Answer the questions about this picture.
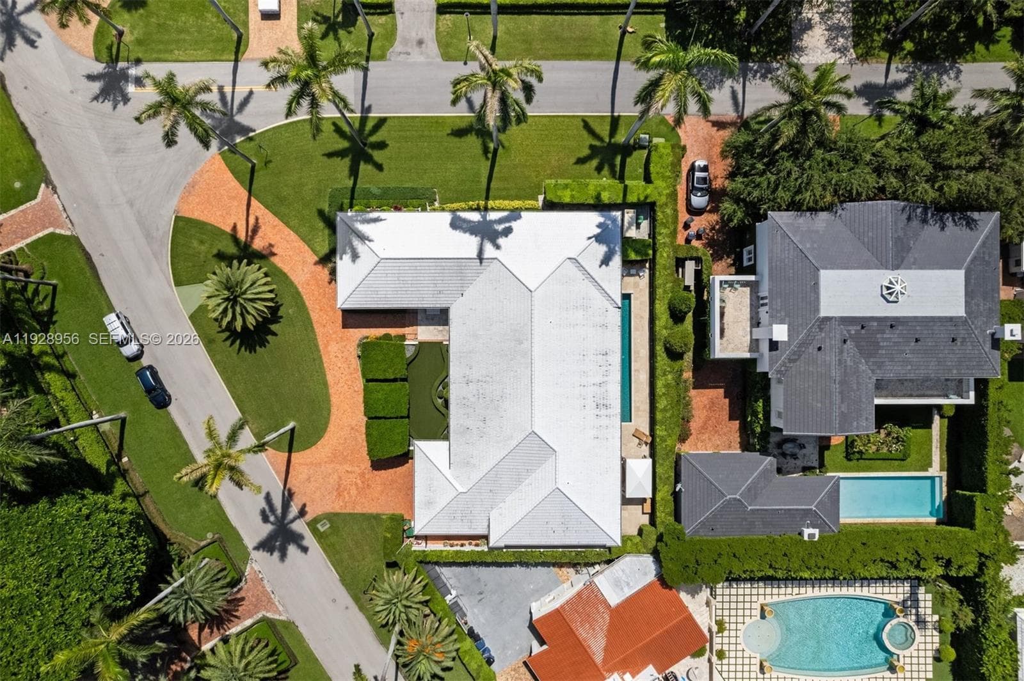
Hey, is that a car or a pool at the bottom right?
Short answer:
pool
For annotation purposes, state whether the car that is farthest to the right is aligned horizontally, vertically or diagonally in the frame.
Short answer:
vertically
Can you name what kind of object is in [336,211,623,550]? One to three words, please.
house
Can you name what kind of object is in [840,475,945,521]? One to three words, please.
swimming pool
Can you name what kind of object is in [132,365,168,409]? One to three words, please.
car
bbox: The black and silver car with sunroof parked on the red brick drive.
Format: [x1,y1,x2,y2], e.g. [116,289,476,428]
[689,161,713,210]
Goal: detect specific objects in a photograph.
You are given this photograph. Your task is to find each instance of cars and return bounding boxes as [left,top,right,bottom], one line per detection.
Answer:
[132,365,168,409]
[254,0,279,15]
[689,161,713,210]
[98,309,141,359]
